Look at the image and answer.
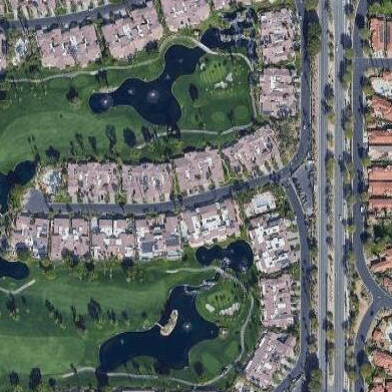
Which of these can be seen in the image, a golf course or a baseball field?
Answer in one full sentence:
The one in the frame is a golf course.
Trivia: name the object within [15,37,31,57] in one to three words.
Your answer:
swimming pool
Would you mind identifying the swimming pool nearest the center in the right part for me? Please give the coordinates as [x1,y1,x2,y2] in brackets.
[250,192,277,213]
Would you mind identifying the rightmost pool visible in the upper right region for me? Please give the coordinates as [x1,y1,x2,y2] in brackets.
[370,76,391,97]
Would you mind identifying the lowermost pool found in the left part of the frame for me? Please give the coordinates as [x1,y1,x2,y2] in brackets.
[44,168,63,192]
